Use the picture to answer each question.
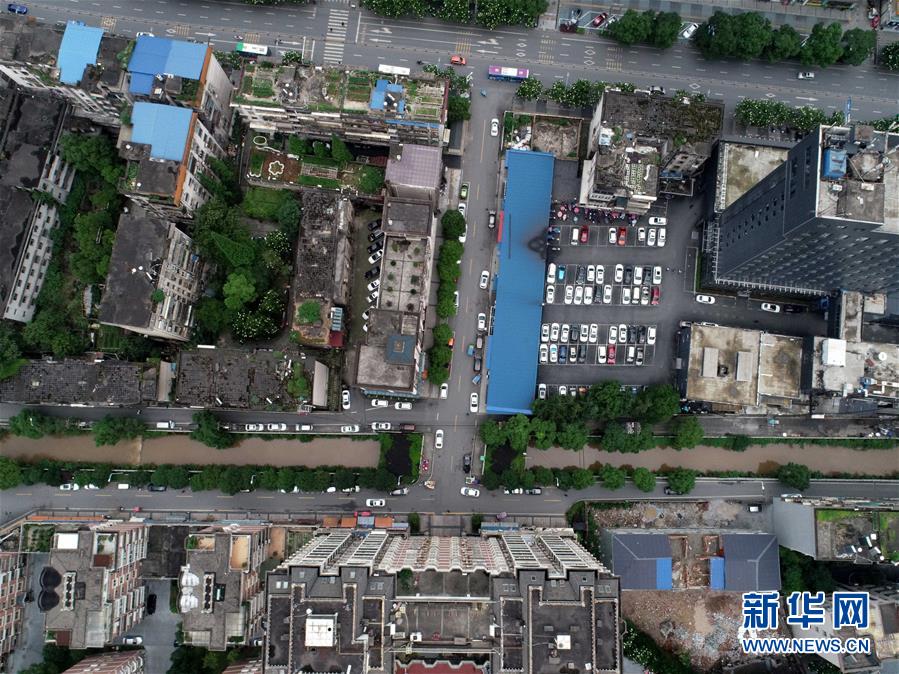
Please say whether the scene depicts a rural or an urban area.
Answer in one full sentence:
The area shown here is urban.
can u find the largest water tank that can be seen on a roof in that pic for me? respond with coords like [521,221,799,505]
[819,149,847,183]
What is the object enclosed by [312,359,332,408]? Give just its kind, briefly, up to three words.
shed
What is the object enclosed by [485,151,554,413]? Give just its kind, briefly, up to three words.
building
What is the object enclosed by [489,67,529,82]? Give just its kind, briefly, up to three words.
vehicle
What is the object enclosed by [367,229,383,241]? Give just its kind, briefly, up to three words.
vehicle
